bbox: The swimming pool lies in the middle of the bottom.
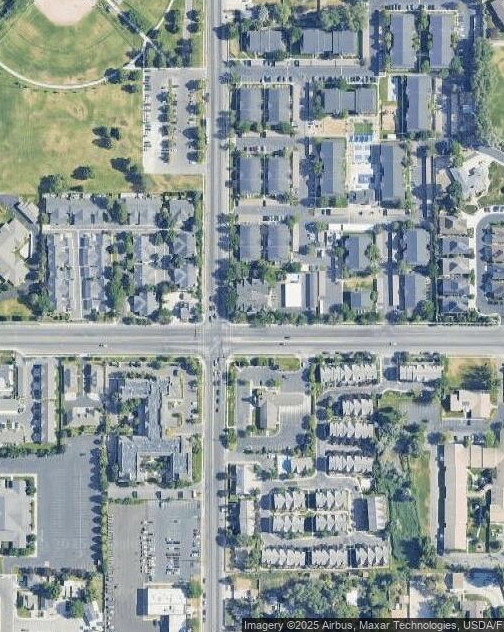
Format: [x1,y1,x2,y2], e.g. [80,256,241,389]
[278,457,291,473]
